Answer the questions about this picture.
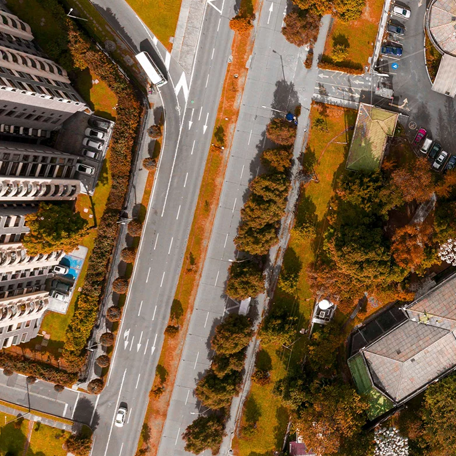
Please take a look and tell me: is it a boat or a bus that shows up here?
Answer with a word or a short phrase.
bus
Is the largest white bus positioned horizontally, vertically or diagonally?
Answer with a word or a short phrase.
diagonally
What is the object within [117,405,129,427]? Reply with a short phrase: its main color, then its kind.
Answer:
white vehicle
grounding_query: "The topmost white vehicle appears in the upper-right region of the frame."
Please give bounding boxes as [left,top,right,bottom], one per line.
[392,7,413,19]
